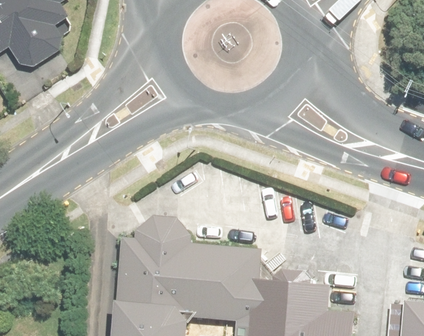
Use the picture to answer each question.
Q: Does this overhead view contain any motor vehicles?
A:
Yes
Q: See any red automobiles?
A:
Yes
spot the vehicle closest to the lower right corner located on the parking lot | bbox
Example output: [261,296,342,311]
[404,281,424,294]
